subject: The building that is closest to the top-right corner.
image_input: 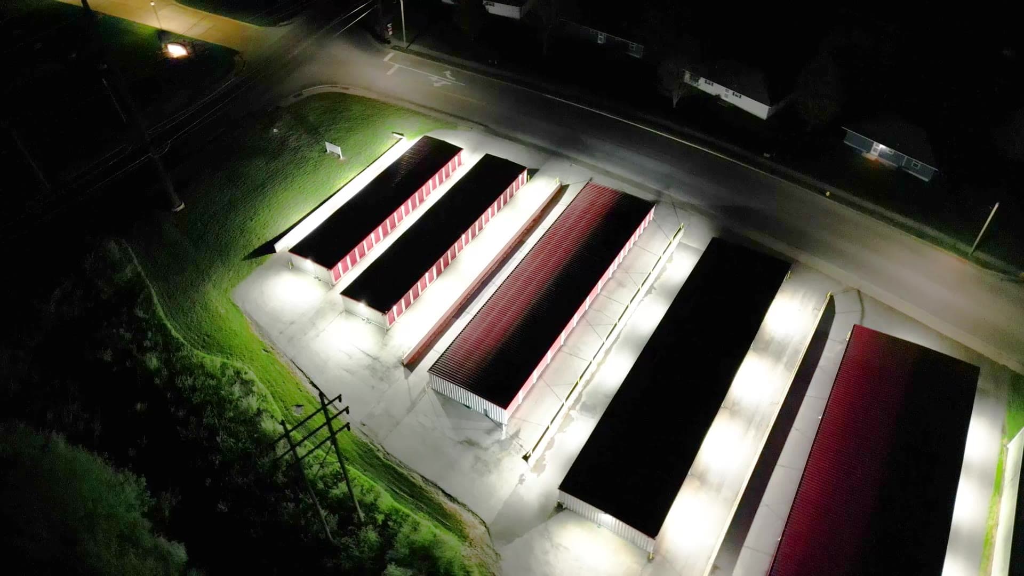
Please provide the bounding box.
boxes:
[844,103,969,181]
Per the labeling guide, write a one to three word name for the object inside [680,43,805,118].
house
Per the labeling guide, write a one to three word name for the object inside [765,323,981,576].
building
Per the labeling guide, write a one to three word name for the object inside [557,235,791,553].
building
